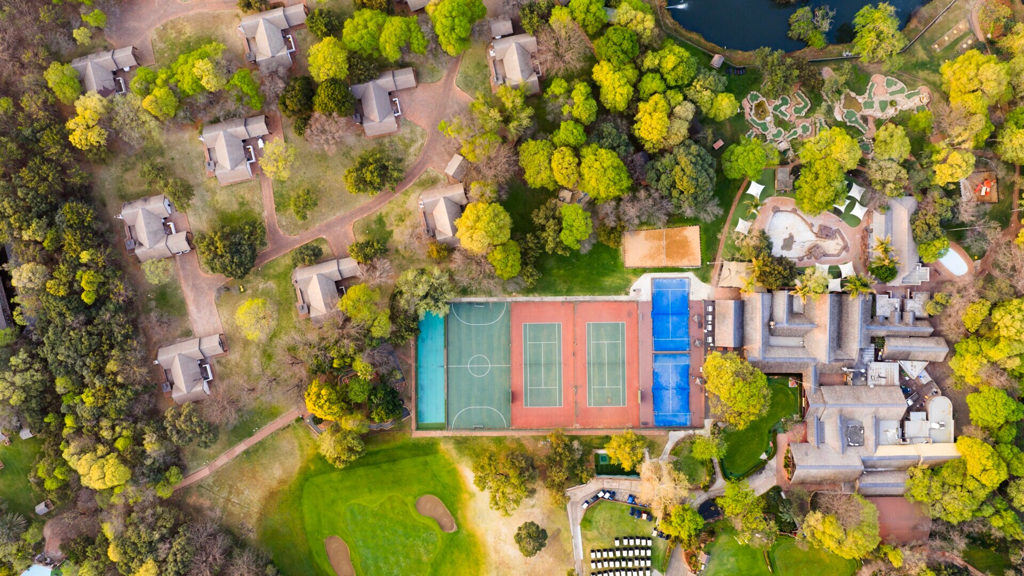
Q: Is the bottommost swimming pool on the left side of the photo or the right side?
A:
left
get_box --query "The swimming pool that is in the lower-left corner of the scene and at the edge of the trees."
[16,555,57,576]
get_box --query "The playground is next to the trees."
[959,170,1000,204]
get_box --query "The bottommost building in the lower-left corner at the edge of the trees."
[36,490,69,516]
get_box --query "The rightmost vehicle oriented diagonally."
[905,390,923,407]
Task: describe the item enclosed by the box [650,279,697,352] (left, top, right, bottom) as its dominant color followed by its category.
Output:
blue sports court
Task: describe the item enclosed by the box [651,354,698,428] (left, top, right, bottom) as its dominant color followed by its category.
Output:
blue sports court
